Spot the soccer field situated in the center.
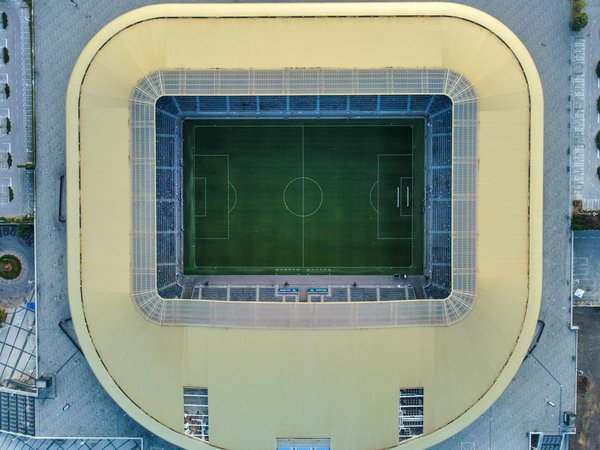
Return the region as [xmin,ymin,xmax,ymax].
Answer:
[183,119,424,275]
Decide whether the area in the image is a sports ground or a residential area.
sports ground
